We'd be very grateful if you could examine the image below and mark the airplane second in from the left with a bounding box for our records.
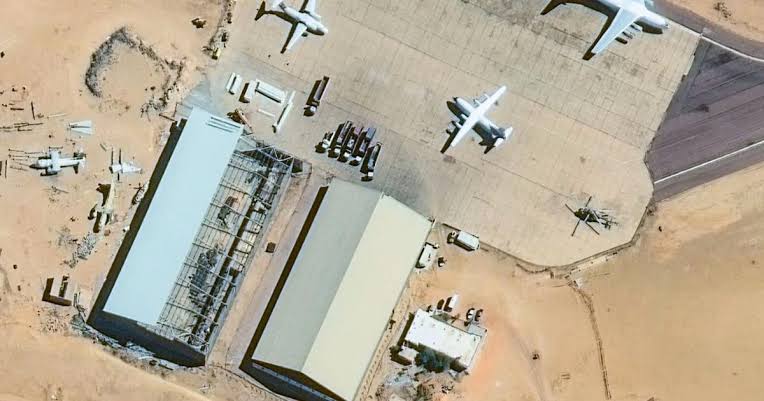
[272,0,327,48]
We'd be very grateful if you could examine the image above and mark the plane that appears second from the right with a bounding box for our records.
[451,87,515,146]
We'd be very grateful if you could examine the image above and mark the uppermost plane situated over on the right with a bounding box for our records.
[585,0,668,52]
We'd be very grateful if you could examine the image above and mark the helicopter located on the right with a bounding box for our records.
[575,193,626,229]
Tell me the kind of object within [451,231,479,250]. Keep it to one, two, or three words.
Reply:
vehicle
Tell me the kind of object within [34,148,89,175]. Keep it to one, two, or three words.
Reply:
airplane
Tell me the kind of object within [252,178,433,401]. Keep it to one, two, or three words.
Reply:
hangar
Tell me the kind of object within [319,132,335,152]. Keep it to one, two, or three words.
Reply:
vehicle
